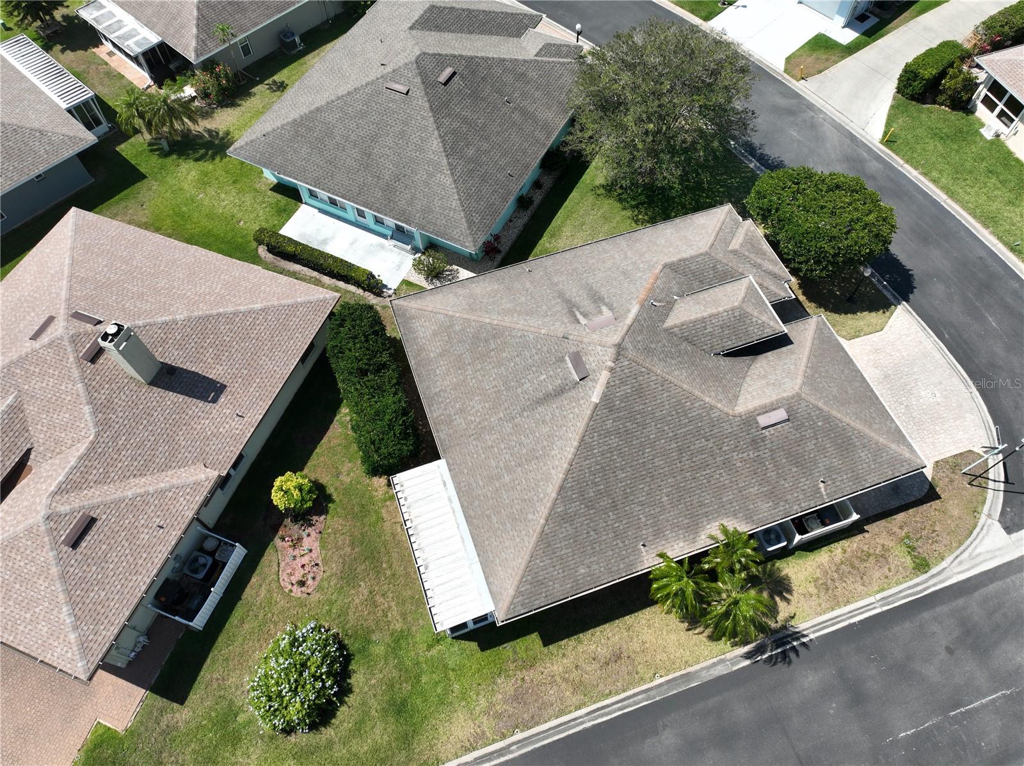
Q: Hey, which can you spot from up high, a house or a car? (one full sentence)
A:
Of the two, only a house appears.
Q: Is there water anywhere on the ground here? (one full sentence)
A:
No, no water is visible.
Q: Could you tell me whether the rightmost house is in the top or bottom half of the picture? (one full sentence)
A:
The rightmost house sits in the top half of the picture.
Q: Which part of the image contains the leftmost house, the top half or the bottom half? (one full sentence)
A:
Seen from above, the leftmost house lies in the top half of the view.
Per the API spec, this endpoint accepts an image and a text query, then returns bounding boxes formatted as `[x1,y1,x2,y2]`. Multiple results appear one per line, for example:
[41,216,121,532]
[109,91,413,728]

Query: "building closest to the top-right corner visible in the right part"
[967,41,1024,153]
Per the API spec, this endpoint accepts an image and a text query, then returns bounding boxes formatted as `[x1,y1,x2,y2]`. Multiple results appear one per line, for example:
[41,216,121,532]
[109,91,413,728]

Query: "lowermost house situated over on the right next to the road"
[387,203,928,638]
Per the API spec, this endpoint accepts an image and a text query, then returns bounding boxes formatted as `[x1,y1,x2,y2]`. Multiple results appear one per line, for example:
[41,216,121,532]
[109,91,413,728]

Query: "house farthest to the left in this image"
[0,33,112,232]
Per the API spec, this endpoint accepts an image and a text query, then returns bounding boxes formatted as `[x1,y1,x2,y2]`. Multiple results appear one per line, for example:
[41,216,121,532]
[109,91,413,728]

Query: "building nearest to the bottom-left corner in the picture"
[0,204,340,686]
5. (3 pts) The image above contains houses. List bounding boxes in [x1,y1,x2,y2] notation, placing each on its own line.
[228,0,608,261]
[81,0,352,85]
[967,41,1024,153]
[0,204,340,686]
[387,203,928,638]
[799,0,876,27]
[0,33,112,232]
